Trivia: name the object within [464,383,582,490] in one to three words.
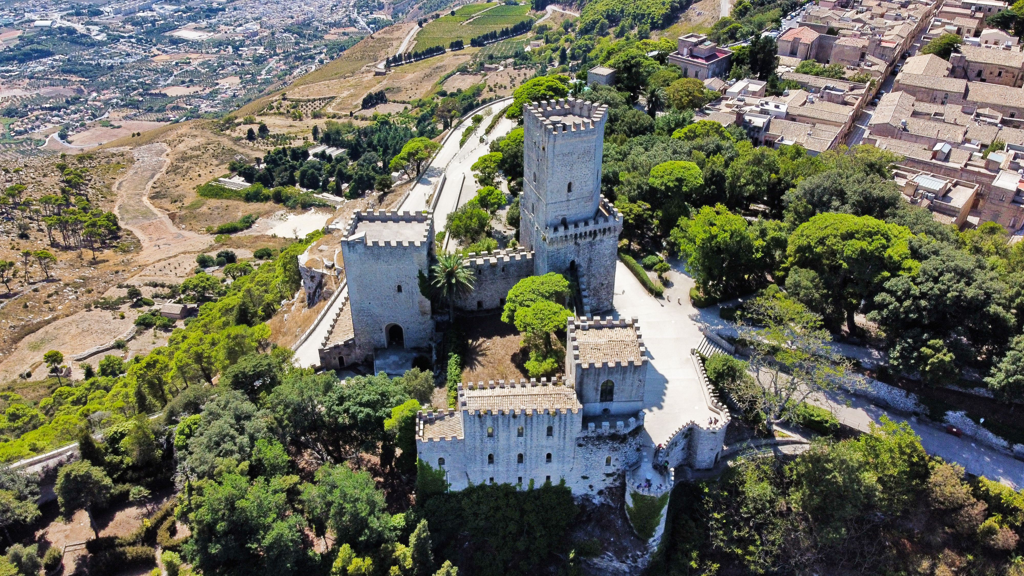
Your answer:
house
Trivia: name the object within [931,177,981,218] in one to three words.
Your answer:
house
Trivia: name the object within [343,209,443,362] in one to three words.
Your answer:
building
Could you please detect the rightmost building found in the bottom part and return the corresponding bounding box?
[694,405,732,458]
